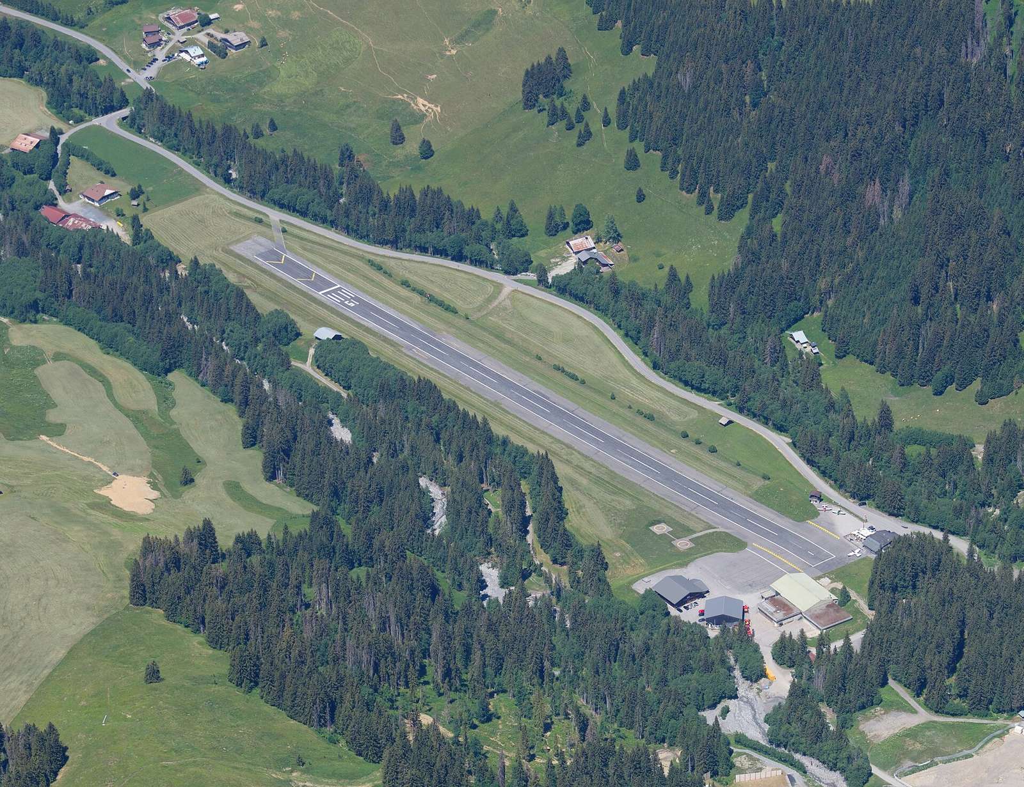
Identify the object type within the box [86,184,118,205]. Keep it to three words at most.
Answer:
house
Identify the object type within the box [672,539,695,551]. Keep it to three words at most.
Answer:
helipad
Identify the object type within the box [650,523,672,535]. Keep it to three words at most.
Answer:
helipad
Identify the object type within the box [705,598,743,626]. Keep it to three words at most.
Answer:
hangar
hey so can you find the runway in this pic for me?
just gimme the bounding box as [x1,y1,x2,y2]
[255,248,834,566]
